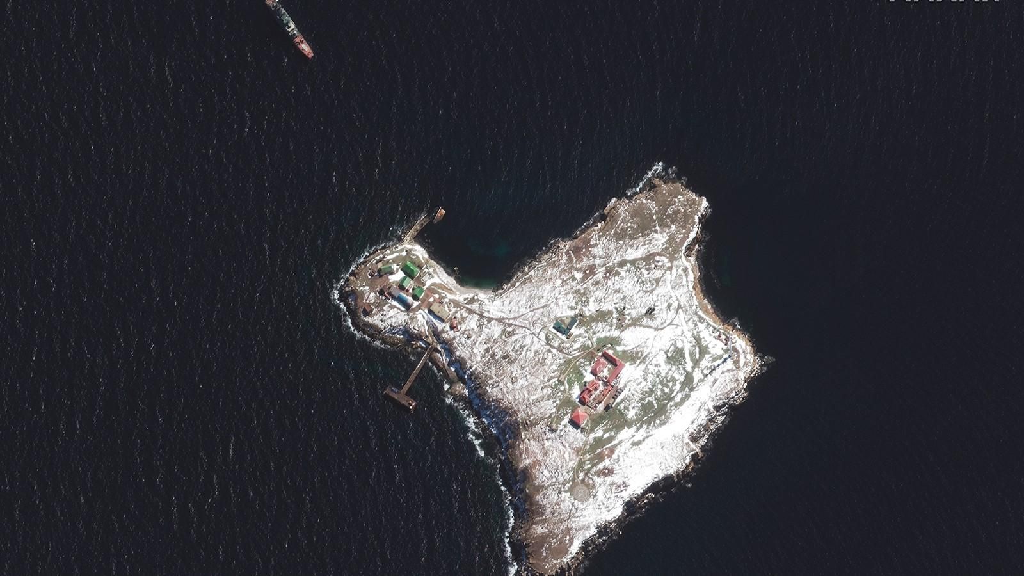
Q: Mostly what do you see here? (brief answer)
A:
water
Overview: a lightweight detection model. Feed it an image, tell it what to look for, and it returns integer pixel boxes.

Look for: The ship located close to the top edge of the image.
[268,0,313,57]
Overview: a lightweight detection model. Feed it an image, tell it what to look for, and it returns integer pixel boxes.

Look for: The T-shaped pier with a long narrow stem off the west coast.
[384,345,434,411]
